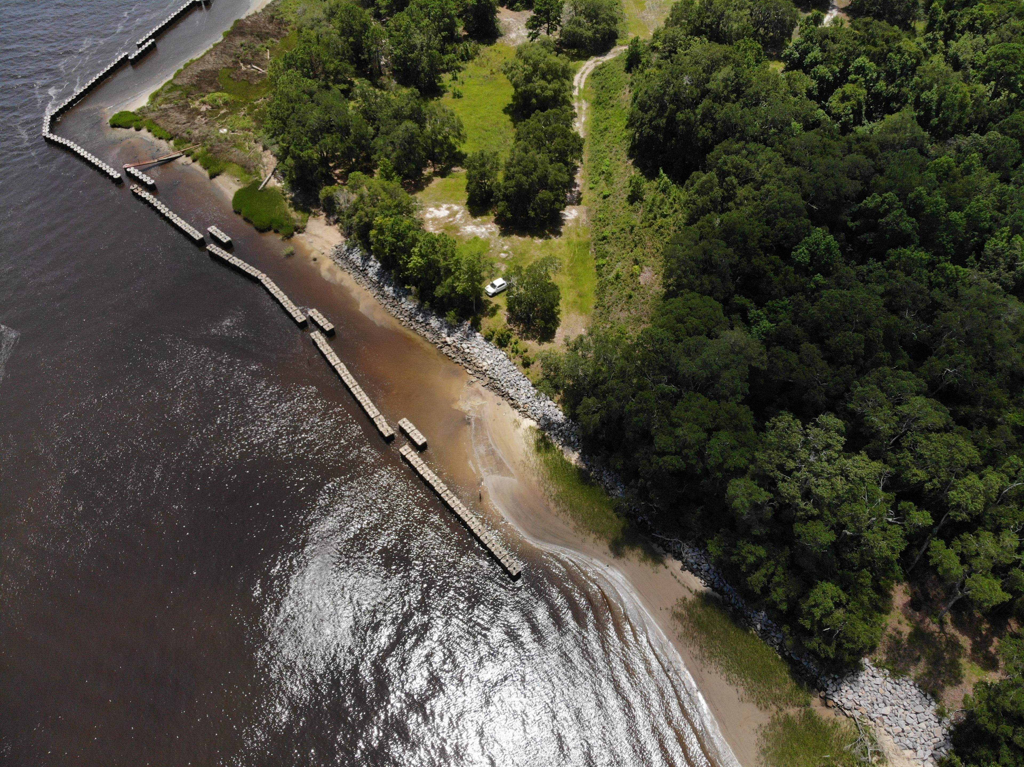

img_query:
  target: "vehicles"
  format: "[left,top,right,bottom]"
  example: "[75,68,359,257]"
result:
[487,279,509,295]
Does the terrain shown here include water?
Yes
